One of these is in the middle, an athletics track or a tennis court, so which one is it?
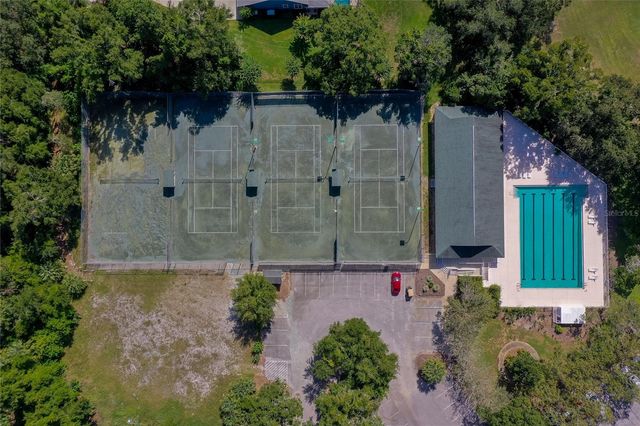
tennis court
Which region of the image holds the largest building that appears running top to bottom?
right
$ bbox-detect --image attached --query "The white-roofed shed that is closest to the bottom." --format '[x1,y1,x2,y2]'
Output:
[556,305,585,324]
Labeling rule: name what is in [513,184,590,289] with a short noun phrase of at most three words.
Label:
swimming pool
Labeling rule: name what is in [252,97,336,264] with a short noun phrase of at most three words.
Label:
tennis court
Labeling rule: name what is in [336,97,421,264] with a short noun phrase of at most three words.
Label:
tennis court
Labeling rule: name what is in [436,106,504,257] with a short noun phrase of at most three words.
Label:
building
